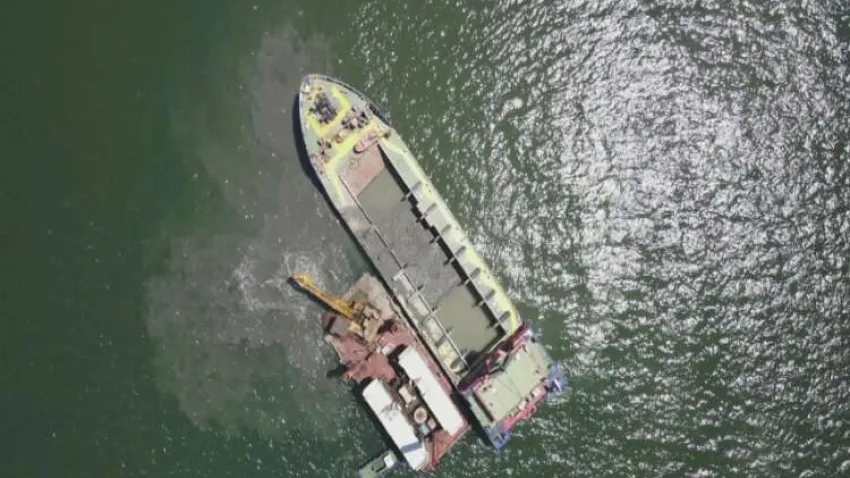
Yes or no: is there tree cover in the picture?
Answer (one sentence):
No, there's no tree cover in this view.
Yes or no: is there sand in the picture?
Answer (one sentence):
No, there's no sand in this view.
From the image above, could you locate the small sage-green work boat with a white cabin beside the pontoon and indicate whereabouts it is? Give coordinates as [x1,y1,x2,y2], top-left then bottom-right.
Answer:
[360,448,400,478]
